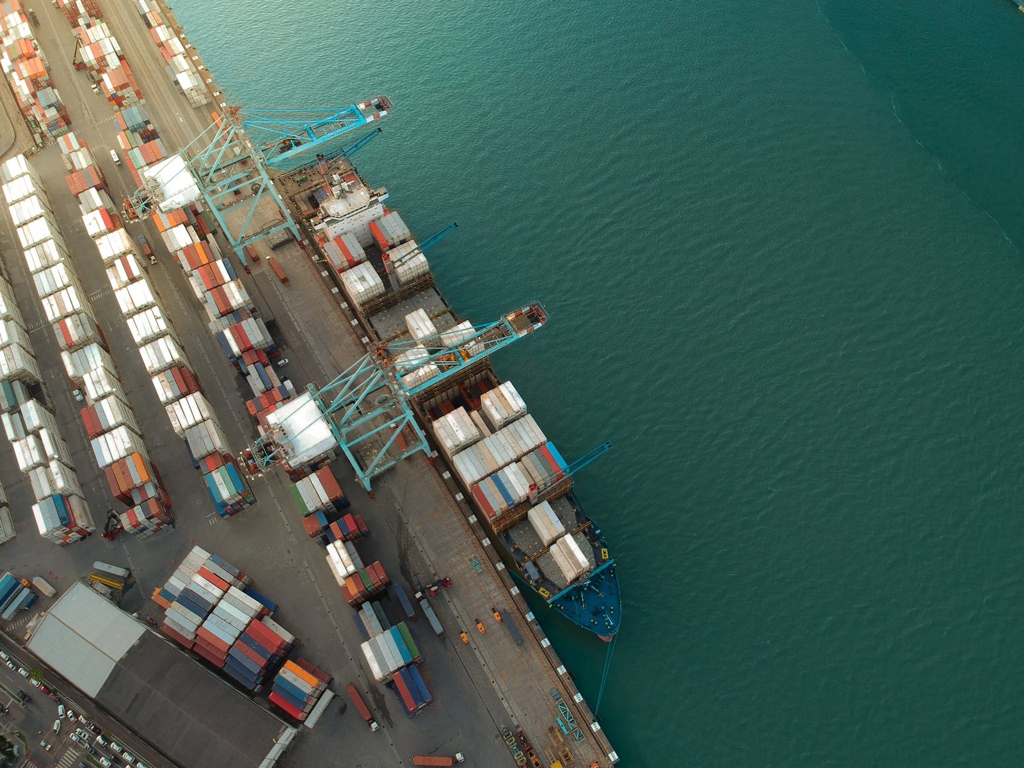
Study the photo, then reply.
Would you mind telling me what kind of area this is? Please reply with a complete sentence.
This image shows a port.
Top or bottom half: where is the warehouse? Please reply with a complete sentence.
The bottom half of the photo is where the warehouse is.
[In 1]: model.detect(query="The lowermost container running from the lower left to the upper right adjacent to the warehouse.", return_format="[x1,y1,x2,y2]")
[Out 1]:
[304,687,336,726]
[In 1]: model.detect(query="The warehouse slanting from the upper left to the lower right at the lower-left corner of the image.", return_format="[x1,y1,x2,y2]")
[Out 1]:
[24,580,306,768]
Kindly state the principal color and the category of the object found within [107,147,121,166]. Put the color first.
white vehicle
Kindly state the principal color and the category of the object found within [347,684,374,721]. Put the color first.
red shipping container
